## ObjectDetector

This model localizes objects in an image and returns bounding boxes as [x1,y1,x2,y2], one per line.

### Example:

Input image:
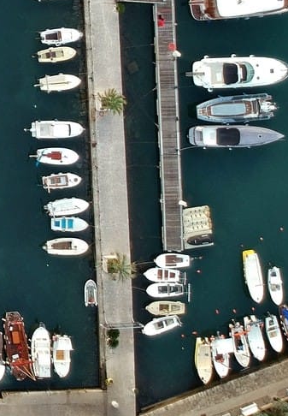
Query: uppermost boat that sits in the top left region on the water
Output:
[37,27,82,47]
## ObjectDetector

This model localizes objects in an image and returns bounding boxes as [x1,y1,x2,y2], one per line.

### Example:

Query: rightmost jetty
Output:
[182,205,214,250]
